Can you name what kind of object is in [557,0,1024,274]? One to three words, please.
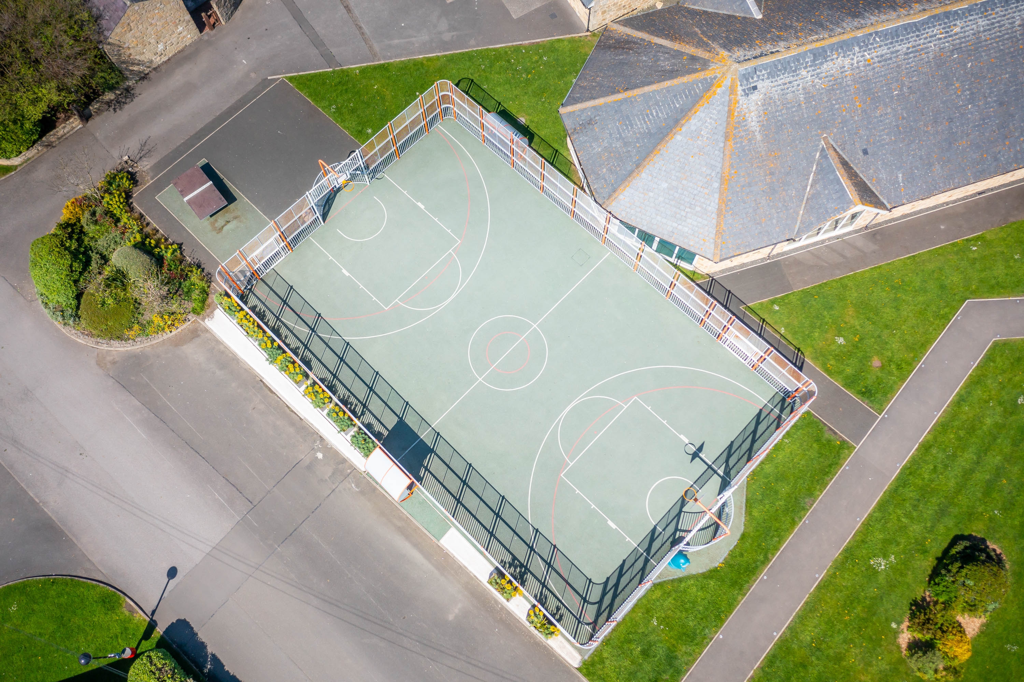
building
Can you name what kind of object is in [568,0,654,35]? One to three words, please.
house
